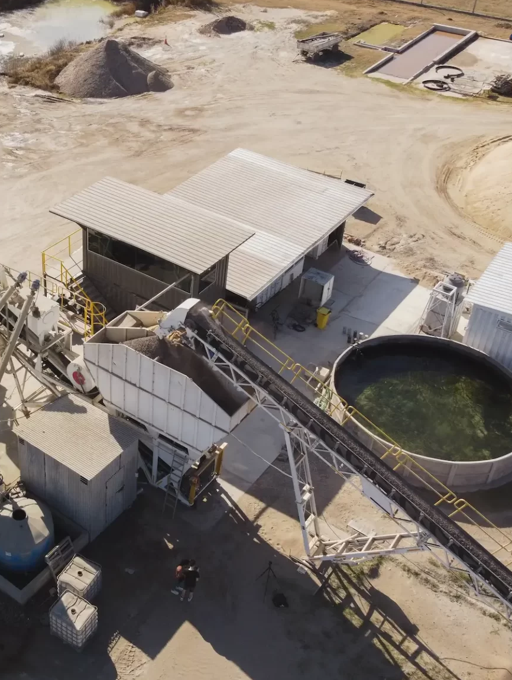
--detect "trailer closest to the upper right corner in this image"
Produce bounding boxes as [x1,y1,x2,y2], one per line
[295,28,348,62]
